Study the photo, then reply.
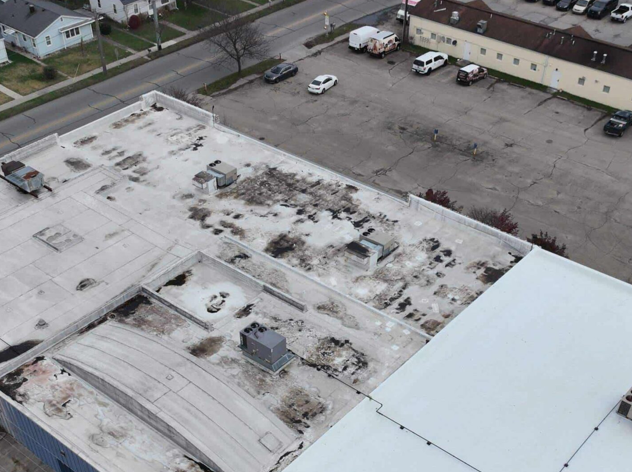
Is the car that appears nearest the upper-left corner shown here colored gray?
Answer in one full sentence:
Yes, the car that appears nearest the upper-left corner is gray.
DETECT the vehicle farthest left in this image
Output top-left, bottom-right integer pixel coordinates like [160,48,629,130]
[264,62,300,83]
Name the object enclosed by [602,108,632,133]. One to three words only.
truck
